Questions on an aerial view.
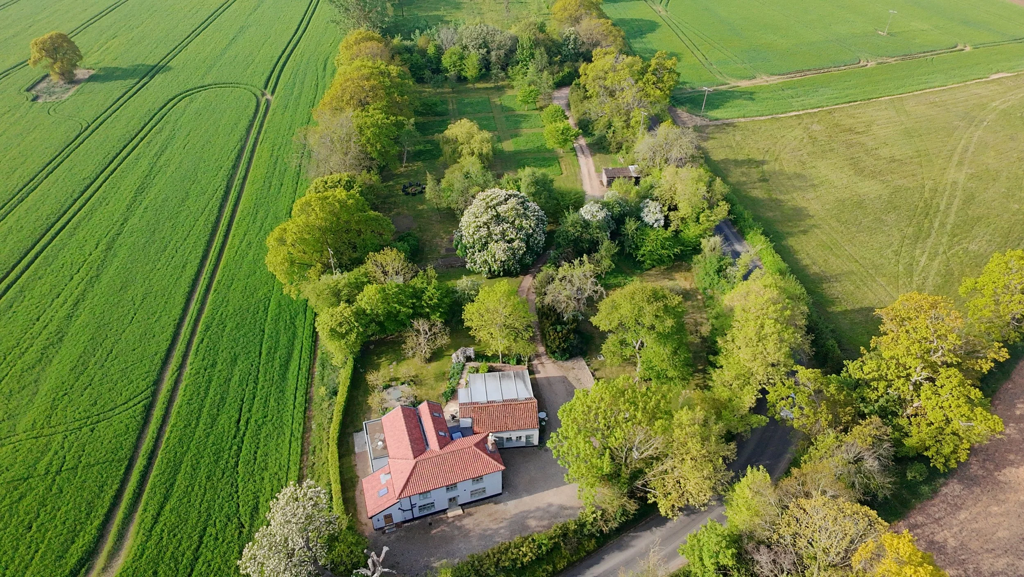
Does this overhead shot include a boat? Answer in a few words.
No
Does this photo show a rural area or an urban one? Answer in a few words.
rural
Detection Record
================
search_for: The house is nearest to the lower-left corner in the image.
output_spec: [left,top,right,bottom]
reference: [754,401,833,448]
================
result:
[361,399,506,530]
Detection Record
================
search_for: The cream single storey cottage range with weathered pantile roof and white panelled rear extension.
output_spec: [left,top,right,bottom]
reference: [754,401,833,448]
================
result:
[457,369,540,448]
